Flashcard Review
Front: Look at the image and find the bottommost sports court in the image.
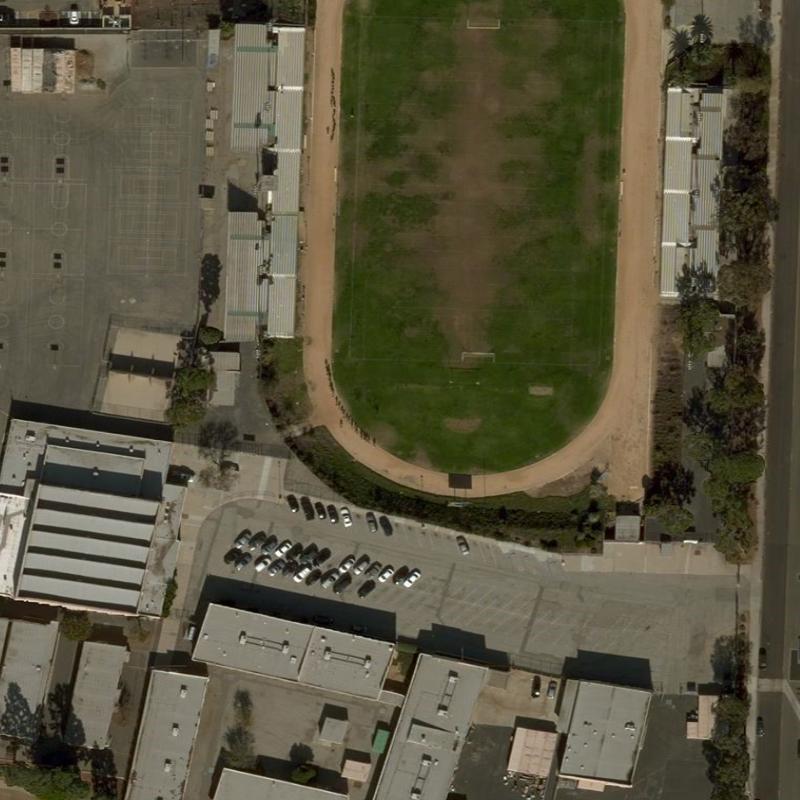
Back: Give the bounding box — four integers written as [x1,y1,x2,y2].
[103,329,177,421]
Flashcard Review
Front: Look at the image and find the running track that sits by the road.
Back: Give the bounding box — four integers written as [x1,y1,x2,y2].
[302,0,664,501]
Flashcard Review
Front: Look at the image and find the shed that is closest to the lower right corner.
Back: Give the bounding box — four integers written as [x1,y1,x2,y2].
[686,695,718,740]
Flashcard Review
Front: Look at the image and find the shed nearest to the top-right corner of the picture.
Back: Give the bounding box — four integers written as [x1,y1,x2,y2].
[708,345,726,368]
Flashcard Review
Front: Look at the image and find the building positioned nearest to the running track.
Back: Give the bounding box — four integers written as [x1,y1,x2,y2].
[615,516,640,541]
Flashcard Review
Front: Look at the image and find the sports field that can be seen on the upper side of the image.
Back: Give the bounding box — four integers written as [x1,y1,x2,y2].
[334,0,623,471]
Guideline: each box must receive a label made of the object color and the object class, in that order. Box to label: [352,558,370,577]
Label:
gray car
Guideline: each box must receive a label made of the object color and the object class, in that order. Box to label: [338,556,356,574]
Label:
white car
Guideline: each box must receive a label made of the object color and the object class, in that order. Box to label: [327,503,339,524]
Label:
black vehicle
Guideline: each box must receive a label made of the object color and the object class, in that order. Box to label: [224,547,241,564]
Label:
black car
